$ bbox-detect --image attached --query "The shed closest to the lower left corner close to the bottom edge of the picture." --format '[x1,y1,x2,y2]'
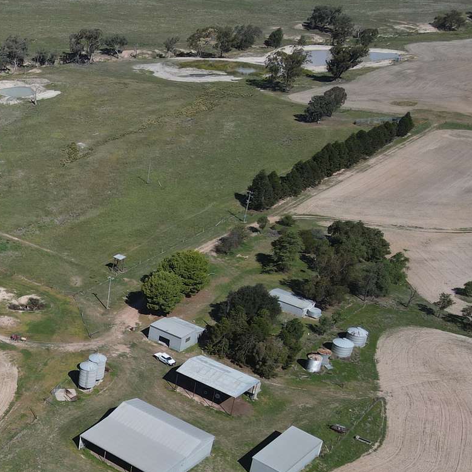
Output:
[78,397,216,472]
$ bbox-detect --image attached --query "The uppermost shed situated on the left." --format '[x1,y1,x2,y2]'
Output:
[149,312,206,352]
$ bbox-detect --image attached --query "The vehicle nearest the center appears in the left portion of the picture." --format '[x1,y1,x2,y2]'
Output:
[151,349,179,366]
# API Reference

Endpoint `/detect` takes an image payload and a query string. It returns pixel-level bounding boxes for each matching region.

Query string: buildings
[78,397,216,472]
[250,423,326,472]
[266,286,317,317]
[175,355,259,413]
[149,312,206,352]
